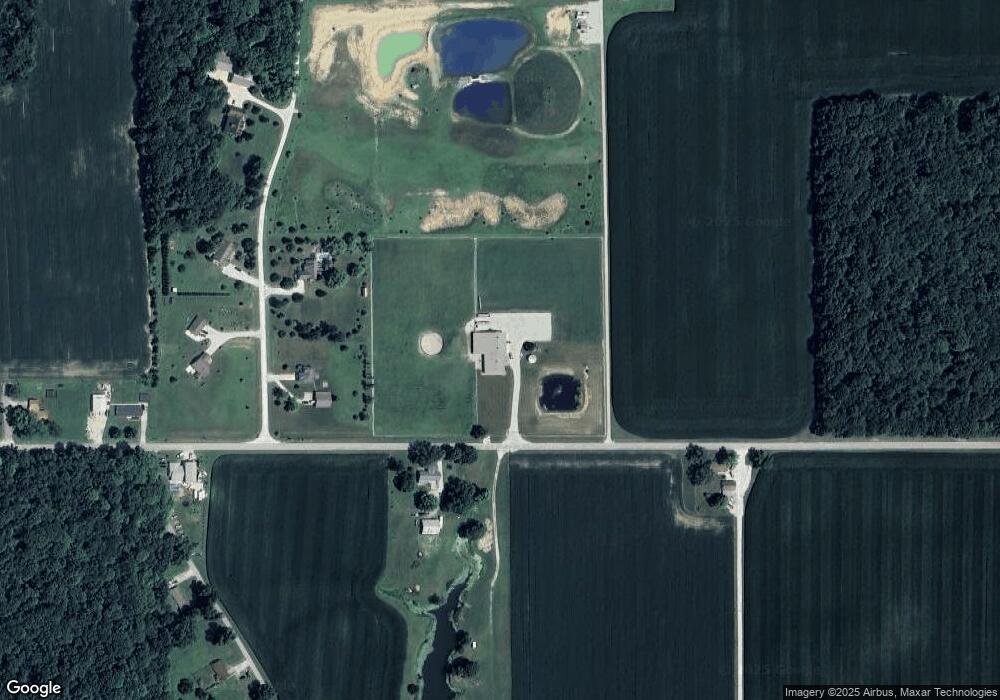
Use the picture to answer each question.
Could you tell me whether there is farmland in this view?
Yes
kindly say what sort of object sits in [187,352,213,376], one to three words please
house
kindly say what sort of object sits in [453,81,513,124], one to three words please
pond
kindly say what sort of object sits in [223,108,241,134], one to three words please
house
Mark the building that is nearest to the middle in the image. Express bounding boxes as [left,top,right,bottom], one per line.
[474,333,510,375]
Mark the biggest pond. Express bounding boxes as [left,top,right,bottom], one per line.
[441,18,530,76]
